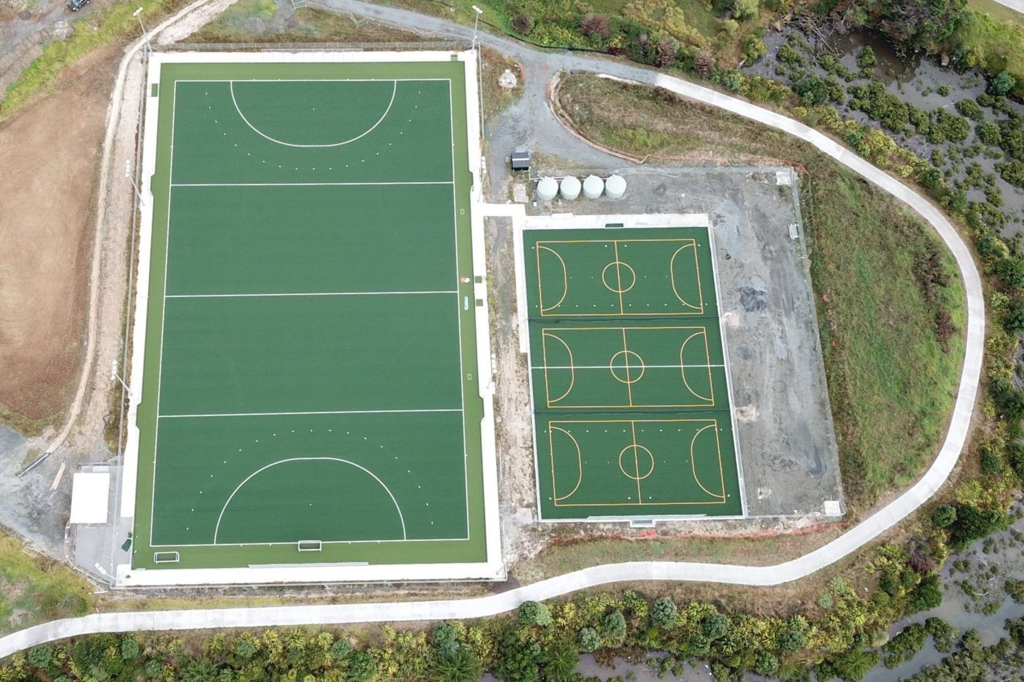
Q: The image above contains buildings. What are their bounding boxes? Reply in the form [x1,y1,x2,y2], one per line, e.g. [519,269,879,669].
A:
[70,466,112,525]
[512,152,529,171]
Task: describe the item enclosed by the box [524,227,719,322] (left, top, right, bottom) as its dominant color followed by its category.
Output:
green sports court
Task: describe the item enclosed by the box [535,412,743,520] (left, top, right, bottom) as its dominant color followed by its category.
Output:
green sports court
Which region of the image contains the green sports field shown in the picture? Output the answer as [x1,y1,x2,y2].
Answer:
[131,60,487,571]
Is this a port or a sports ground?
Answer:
sports ground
